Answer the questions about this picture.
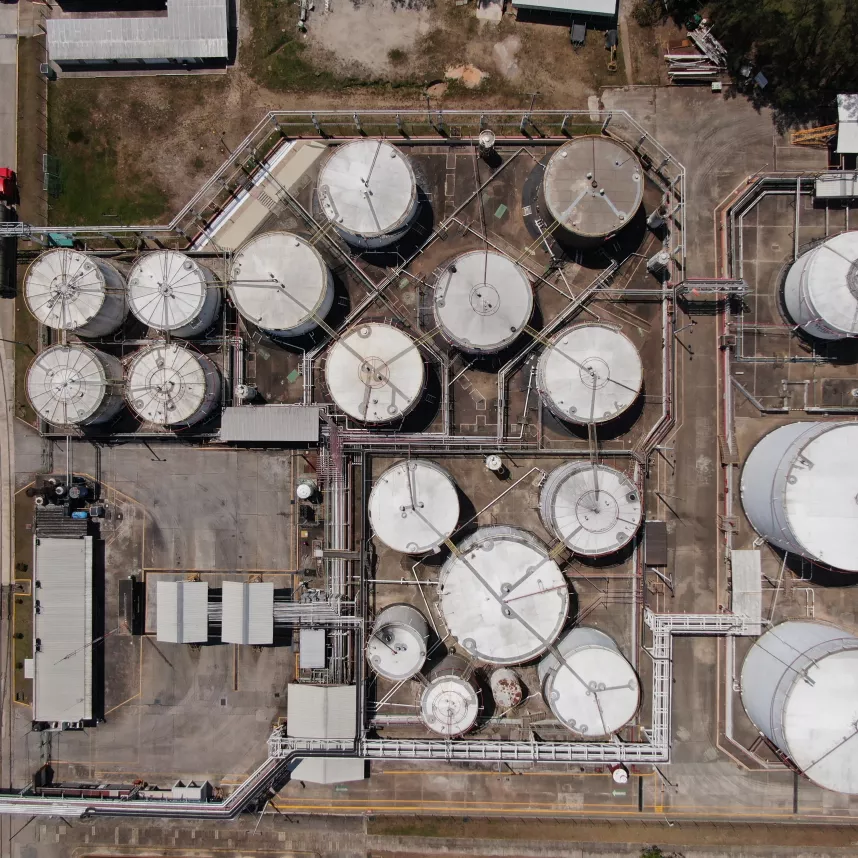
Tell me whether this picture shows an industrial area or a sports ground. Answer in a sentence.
This looks like an industrial area.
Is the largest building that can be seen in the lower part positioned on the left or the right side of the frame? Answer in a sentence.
It is on the left.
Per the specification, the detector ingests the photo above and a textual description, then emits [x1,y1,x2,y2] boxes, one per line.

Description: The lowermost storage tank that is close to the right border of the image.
[737,613,858,798]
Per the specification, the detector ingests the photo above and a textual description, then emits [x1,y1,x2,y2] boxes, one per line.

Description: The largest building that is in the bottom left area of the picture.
[24,535,97,722]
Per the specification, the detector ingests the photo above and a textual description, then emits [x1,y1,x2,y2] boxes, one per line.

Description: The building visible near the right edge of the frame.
[829,93,858,158]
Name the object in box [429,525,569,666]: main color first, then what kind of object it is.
white storage tank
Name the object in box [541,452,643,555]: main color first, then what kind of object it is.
white storage tank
